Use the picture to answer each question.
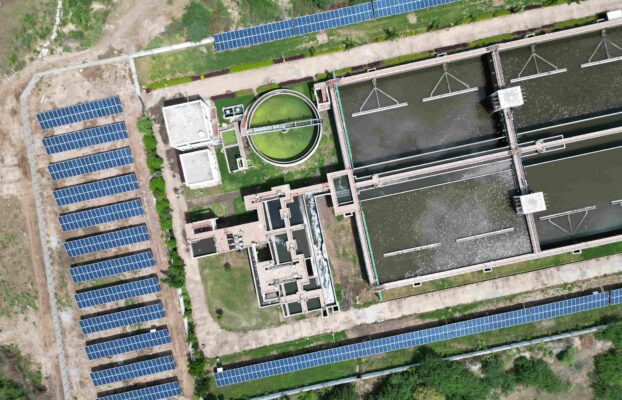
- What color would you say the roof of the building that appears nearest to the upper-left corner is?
white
